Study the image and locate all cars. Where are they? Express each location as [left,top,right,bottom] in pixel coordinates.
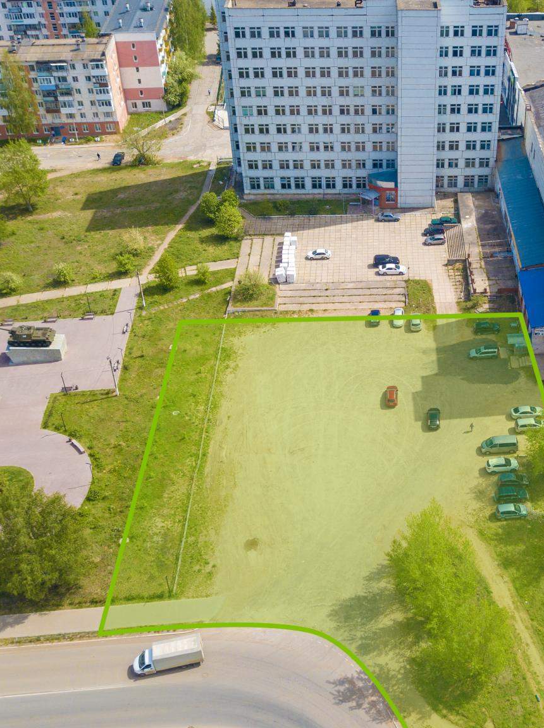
[376,211,401,222]
[391,308,404,328]
[430,215,456,225]
[384,388,398,408]
[378,263,407,276]
[423,234,447,245]
[110,153,127,164]
[494,503,529,521]
[510,404,544,419]
[409,314,422,333]
[369,311,380,327]
[479,434,519,454]
[306,248,333,260]
[484,455,520,474]
[493,483,531,502]
[422,224,446,236]
[372,253,401,264]
[425,408,442,432]
[493,471,531,487]
[472,319,501,334]
[513,415,544,433]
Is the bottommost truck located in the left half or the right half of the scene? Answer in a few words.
left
